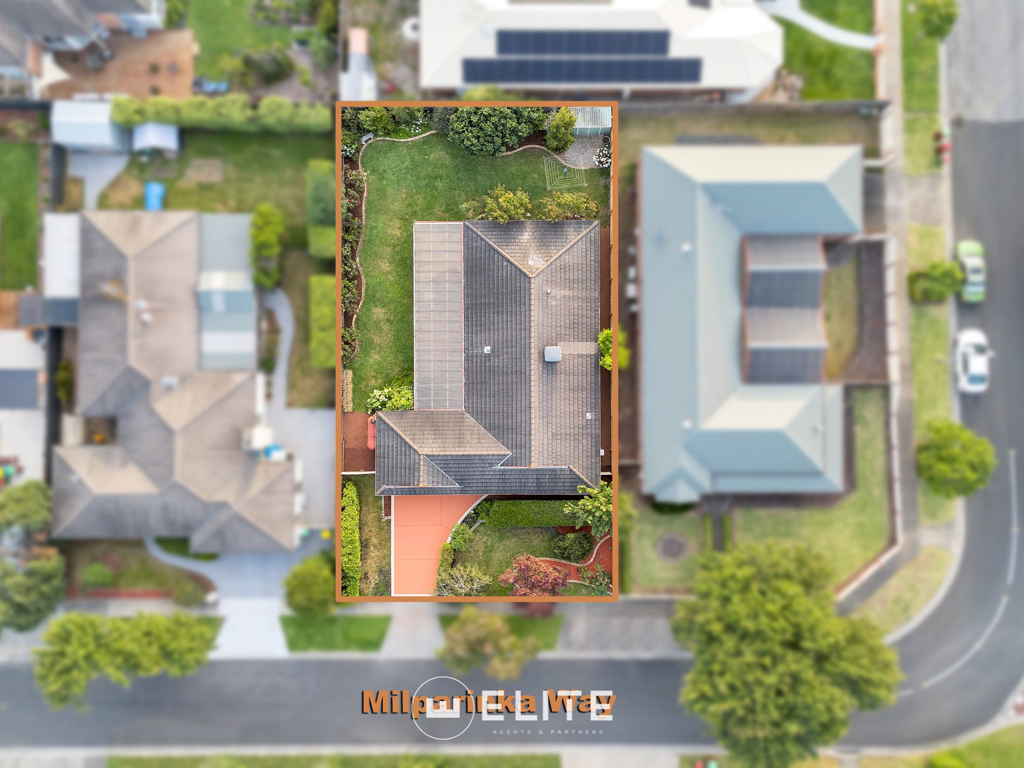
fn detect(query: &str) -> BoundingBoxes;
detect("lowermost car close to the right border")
[959,331,994,392]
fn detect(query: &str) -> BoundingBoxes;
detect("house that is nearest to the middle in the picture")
[374,218,602,496]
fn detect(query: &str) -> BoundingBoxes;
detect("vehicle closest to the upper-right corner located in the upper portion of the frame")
[959,241,992,301]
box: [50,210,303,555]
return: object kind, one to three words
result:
house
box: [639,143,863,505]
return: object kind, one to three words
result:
house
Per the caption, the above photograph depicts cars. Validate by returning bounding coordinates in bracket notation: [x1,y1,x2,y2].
[959,331,994,392]
[959,241,992,301]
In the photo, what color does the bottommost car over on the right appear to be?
white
